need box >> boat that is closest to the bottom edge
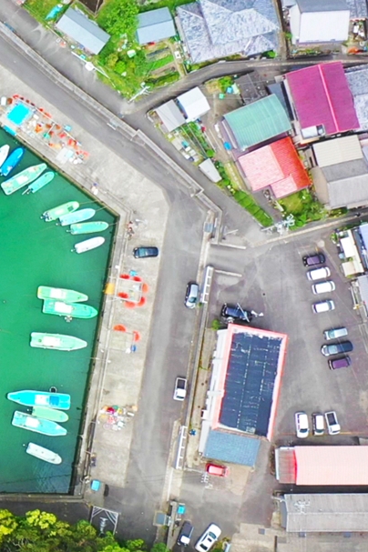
[23,442,61,463]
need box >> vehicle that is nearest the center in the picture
[182,282,200,307]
